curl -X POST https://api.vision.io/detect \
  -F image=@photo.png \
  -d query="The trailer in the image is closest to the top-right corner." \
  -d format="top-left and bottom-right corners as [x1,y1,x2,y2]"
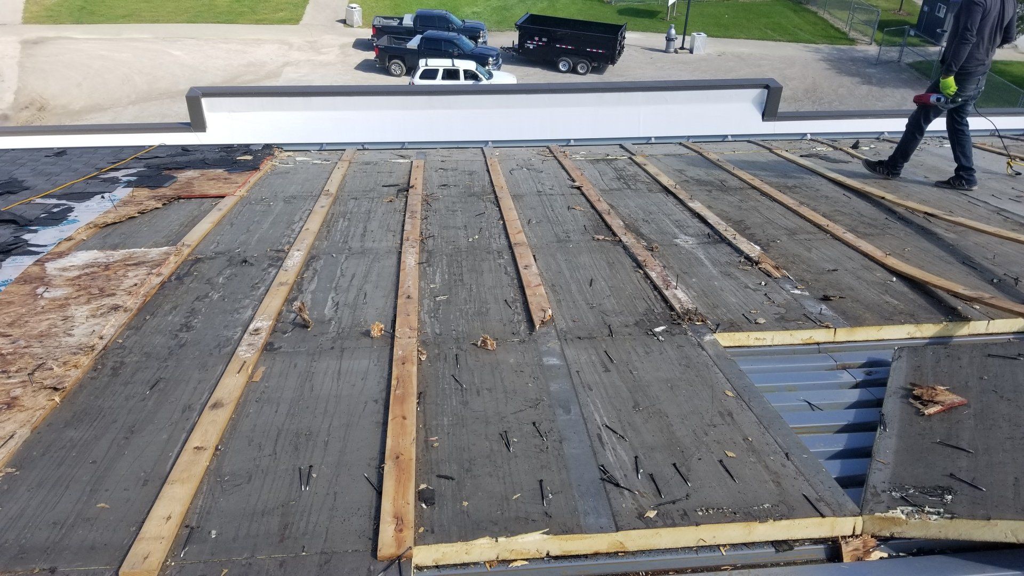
[505,13,629,75]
